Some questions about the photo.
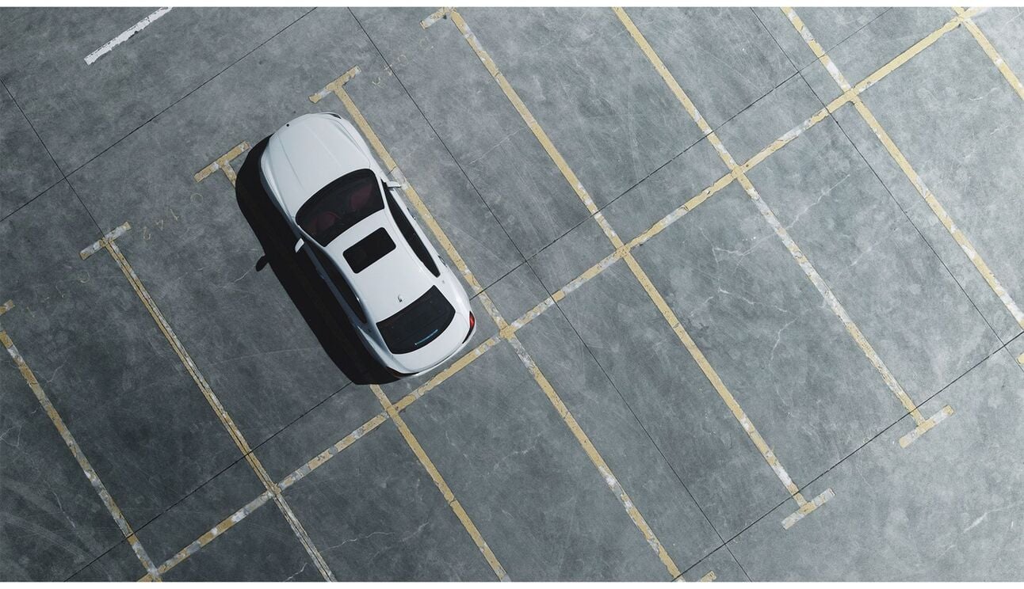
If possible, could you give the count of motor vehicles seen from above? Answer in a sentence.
Only 1 motor vehicle is visible.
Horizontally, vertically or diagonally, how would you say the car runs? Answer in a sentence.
The car is laid out diagonally.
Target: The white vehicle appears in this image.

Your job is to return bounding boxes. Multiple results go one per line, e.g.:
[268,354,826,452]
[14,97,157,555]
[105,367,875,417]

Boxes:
[259,109,476,377]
